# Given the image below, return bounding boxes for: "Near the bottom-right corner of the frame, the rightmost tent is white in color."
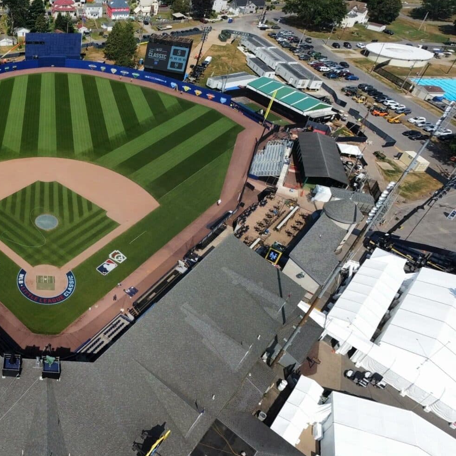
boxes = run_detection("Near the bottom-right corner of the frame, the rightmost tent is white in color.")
[414,385,456,429]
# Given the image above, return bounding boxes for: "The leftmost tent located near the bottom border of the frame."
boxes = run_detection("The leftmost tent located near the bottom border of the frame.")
[264,375,324,451]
